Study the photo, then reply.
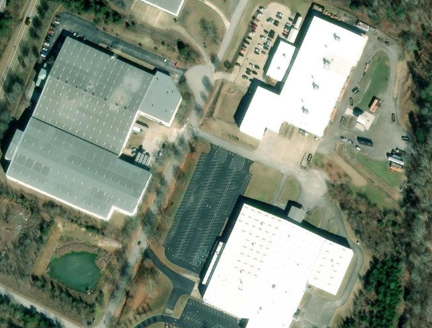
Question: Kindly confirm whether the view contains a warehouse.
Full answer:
Yes, there's a warehouse here.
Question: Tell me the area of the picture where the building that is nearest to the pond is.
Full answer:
The building that is nearest to the pond appears toward the left of the photo.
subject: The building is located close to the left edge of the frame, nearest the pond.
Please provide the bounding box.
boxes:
[6,118,152,221]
